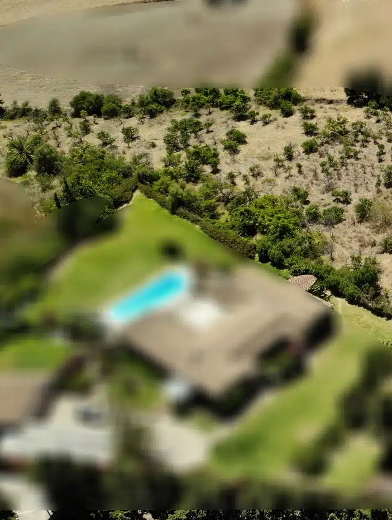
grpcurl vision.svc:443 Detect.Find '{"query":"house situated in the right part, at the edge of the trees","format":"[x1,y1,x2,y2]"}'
[139,266,337,409]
